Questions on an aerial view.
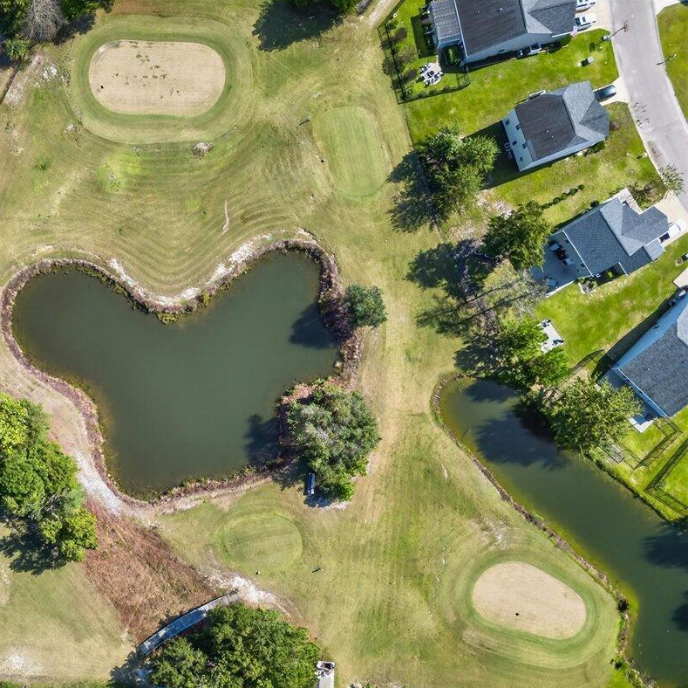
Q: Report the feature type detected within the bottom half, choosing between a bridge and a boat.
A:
bridge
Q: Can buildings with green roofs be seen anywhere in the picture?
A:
No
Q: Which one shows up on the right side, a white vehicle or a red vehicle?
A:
white vehicle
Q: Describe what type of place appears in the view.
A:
golf course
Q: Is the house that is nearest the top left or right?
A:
right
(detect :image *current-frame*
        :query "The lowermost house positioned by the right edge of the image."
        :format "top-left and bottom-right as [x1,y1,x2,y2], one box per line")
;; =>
[609,294,688,417]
